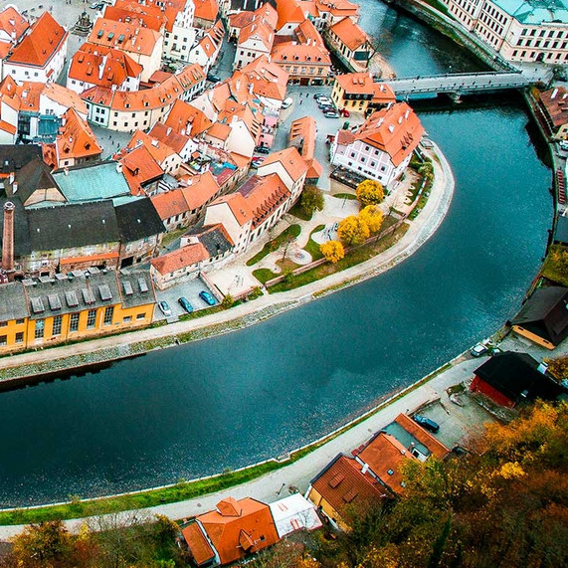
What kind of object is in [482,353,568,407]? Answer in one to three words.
house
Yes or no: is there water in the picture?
Yes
